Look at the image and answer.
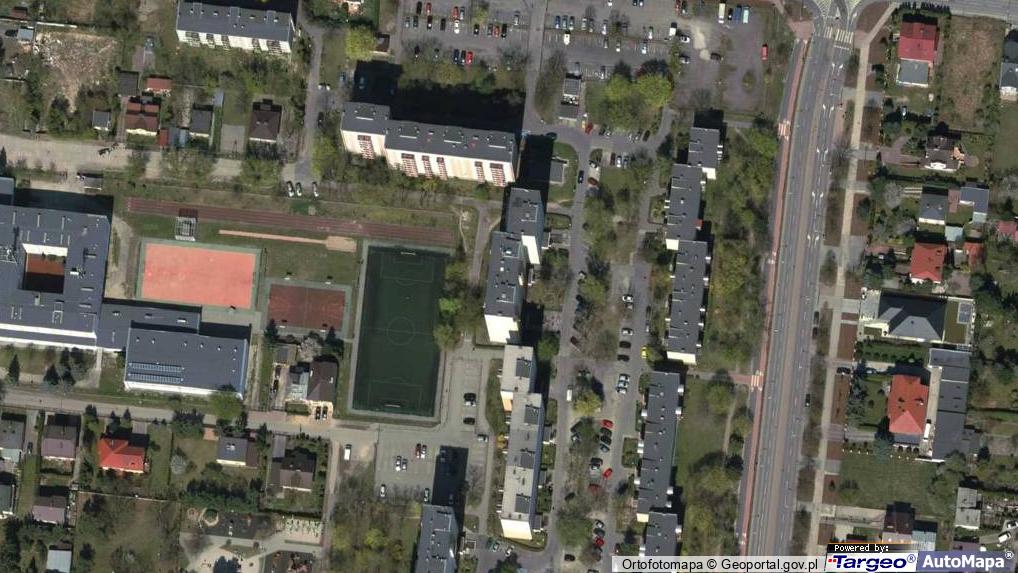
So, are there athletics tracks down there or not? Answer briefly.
Yes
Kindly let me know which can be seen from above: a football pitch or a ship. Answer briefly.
football pitch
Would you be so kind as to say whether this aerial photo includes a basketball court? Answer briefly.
Yes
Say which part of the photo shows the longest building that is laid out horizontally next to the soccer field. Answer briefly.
top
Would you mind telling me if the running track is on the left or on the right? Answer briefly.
left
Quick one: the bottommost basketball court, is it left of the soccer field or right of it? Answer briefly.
on the left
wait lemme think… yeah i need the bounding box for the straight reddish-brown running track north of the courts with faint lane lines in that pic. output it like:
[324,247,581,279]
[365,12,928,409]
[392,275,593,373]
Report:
[128,197,454,247]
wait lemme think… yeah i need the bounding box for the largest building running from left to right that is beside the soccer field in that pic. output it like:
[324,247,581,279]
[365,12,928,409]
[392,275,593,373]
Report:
[341,101,519,183]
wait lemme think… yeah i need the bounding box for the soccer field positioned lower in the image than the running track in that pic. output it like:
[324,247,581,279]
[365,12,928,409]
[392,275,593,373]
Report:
[347,240,452,425]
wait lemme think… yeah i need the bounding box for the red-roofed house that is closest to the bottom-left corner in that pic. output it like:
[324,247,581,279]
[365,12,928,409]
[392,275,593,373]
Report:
[98,438,130,473]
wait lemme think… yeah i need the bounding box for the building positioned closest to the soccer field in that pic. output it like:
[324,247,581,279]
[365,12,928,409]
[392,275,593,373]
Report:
[306,361,338,404]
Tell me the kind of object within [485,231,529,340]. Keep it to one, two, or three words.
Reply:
building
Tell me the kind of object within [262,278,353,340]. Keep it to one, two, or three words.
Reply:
basketball court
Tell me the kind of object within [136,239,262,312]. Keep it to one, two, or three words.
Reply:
sports court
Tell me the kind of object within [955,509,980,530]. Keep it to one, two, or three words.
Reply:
shed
